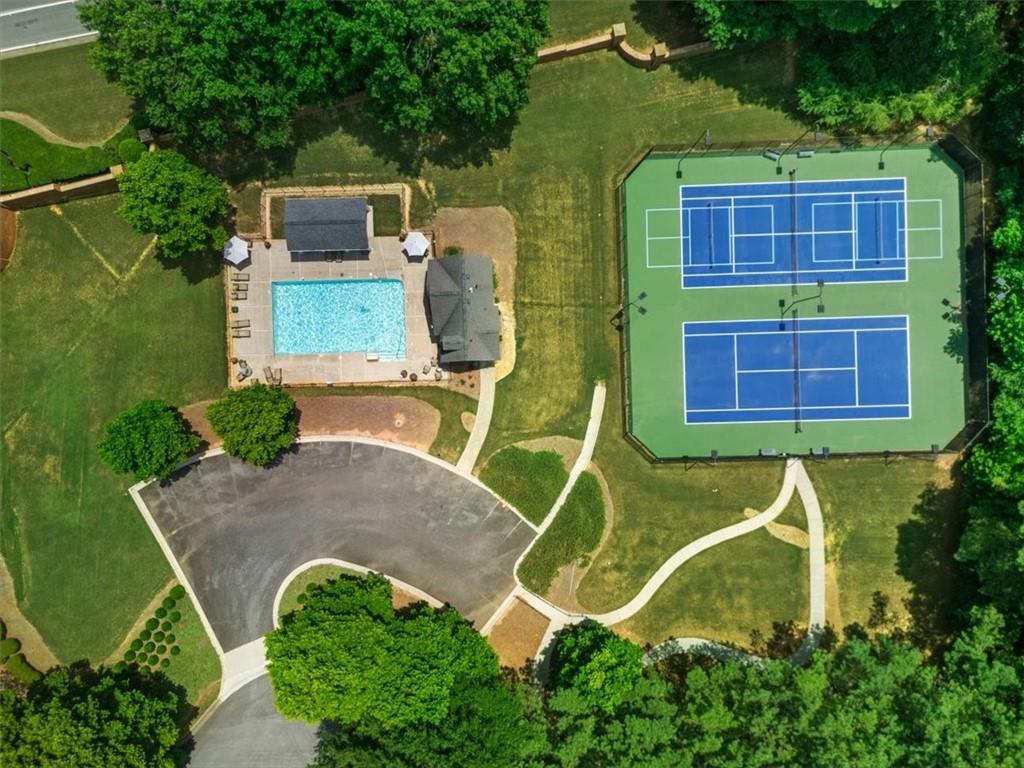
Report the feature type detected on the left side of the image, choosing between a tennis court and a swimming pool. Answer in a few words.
swimming pool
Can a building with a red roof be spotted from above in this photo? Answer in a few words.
No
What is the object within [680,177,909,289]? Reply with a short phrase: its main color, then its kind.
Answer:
blue tennis court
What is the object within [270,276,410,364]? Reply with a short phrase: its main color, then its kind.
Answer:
blue swimming pool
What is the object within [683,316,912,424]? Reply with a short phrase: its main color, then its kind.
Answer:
blue tennis court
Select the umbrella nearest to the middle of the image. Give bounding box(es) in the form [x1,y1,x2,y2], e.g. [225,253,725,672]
[403,233,429,255]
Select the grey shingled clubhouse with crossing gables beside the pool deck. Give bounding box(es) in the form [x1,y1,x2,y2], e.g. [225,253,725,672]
[428,255,501,362]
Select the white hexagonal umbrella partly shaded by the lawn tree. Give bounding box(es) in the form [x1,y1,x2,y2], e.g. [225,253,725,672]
[225,237,249,263]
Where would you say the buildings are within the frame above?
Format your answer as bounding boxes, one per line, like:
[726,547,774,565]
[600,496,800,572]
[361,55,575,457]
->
[284,196,374,256]
[428,255,501,362]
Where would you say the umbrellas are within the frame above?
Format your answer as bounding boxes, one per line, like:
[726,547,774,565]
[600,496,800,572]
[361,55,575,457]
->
[403,233,429,255]
[225,237,249,263]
